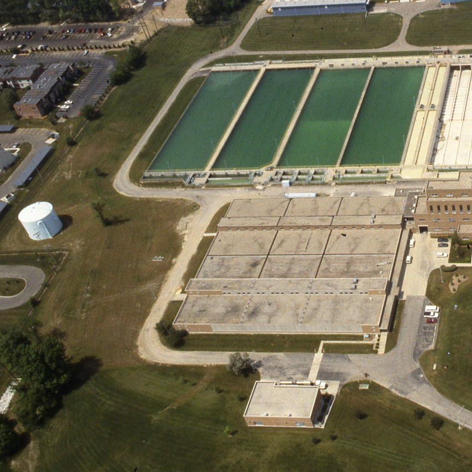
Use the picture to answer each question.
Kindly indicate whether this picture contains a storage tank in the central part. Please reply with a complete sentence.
No, I see no storage tank in the central part.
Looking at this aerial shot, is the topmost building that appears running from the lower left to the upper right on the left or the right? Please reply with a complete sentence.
The topmost building that appears running from the lower left to the upper right sits on the left side.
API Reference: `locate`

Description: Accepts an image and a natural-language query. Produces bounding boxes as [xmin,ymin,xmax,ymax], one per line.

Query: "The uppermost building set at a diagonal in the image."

[15,59,82,118]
